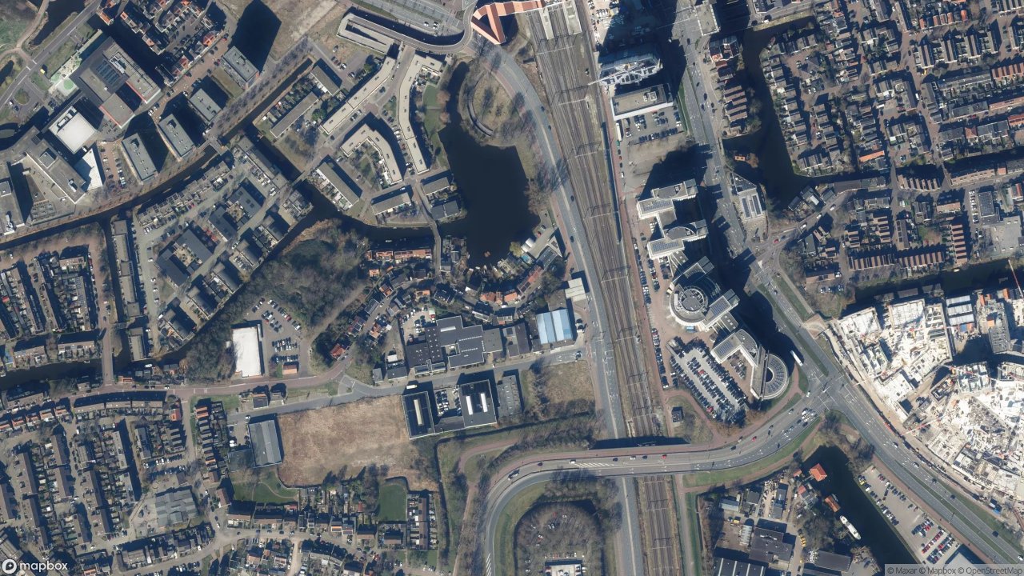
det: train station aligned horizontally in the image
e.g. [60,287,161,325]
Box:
[471,0,582,45]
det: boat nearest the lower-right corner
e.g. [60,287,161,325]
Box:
[843,514,860,538]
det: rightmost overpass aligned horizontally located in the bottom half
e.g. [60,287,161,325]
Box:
[472,401,814,576]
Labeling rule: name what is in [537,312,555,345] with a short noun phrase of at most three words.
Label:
building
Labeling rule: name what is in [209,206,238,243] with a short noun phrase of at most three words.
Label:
building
